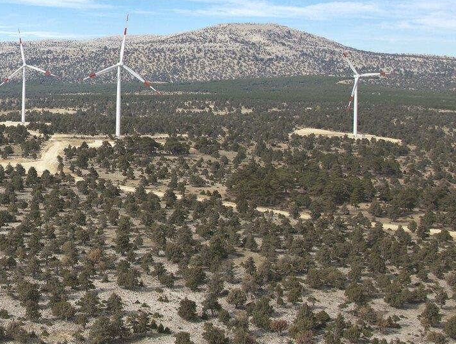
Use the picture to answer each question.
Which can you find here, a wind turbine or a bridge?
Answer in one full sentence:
It is a wind turbine that can be seen here.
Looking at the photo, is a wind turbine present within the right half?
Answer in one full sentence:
Yes, a wind turbine shows up within the right half.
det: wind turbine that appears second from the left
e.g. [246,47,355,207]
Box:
[80,18,157,138]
